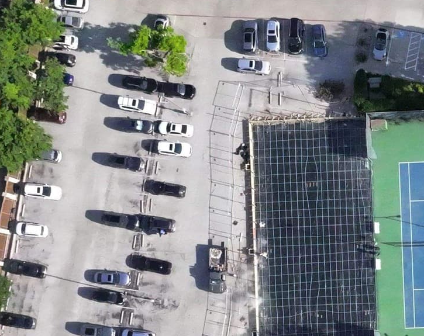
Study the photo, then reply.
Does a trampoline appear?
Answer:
No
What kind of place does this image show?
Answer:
parking lot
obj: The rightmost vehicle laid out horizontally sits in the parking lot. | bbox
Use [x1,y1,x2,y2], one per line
[237,57,272,75]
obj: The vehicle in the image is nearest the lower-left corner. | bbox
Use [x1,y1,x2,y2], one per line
[0,311,37,329]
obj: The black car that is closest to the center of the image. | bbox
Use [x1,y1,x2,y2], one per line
[149,179,186,199]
